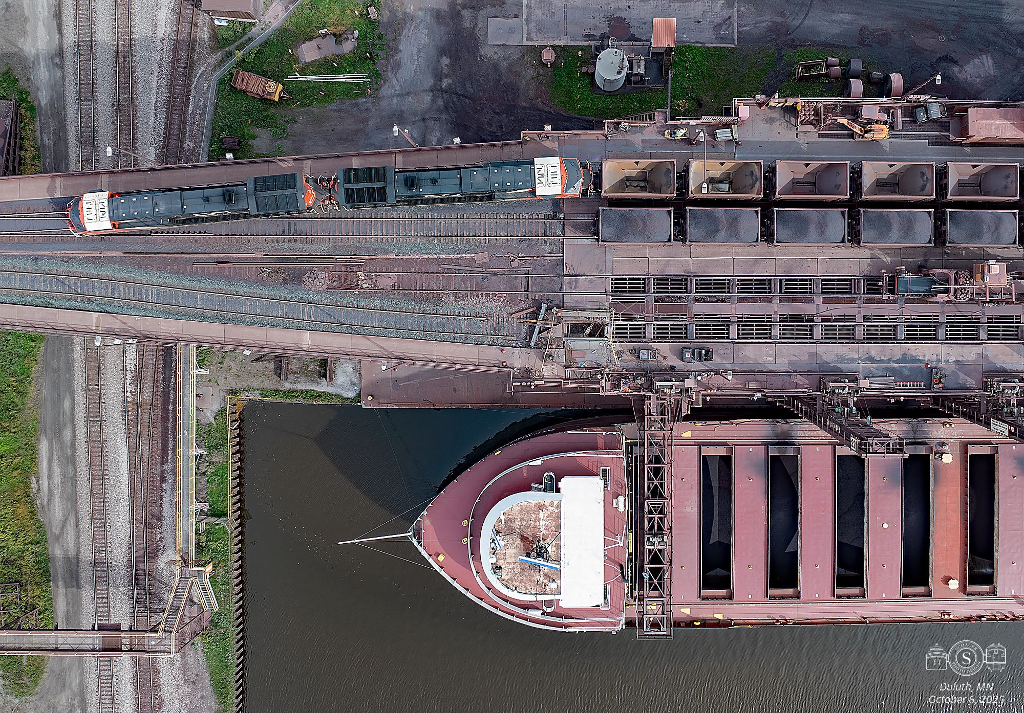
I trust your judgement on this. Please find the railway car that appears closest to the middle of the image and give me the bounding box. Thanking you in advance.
[328,158,600,216]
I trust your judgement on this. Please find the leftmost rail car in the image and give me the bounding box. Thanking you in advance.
[60,172,338,241]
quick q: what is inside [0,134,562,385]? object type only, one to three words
bridge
